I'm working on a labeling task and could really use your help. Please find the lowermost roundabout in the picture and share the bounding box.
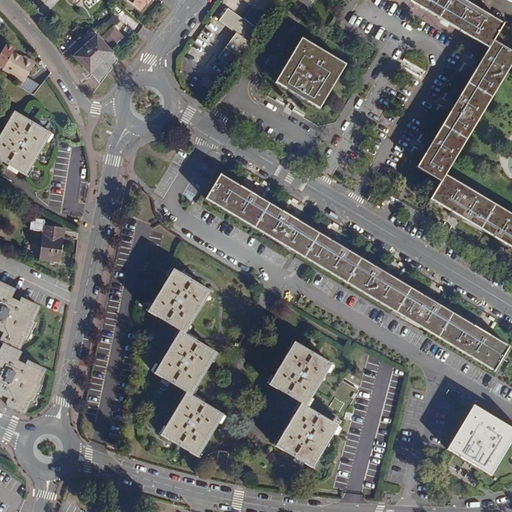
[18,420,76,478]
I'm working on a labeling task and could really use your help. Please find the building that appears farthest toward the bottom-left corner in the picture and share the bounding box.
[0,341,47,414]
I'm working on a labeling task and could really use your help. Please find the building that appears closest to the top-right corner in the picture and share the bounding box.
[404,0,505,49]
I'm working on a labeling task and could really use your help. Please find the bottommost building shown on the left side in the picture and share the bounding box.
[158,392,227,458]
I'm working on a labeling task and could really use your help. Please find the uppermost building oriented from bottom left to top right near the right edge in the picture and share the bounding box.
[414,42,512,182]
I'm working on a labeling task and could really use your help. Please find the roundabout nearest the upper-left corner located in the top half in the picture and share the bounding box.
[117,72,177,132]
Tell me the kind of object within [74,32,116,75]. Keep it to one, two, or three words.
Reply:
house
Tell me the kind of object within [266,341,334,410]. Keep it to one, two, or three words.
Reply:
building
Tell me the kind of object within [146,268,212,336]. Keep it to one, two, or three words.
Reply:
building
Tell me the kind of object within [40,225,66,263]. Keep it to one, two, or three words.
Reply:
house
